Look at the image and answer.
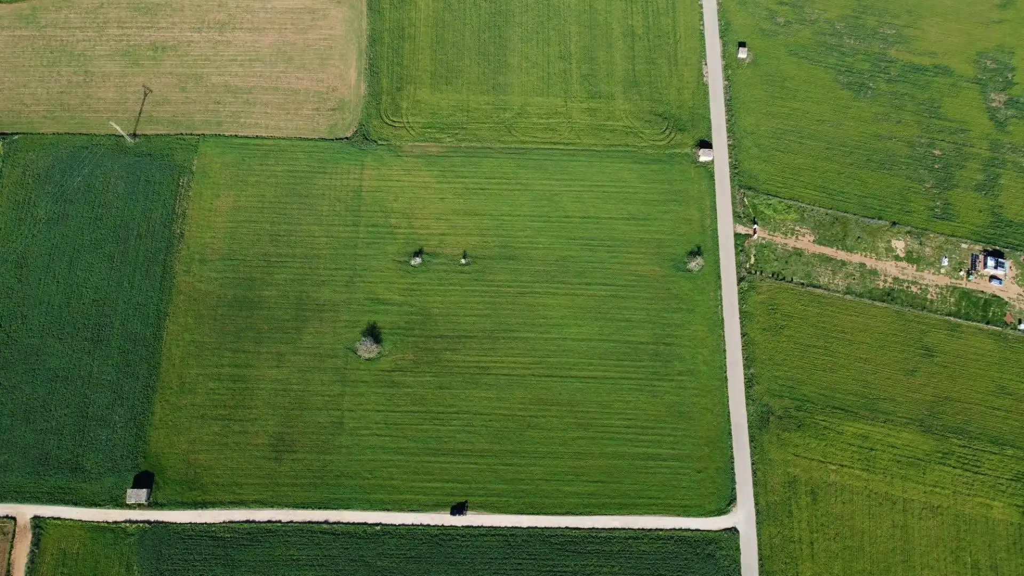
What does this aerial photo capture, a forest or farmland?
farmland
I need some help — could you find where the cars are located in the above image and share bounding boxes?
[992,279,1005,287]
[450,509,467,516]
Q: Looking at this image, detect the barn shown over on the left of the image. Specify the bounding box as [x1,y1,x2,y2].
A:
[124,490,149,504]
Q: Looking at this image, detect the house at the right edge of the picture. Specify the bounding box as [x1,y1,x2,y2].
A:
[977,257,1011,279]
